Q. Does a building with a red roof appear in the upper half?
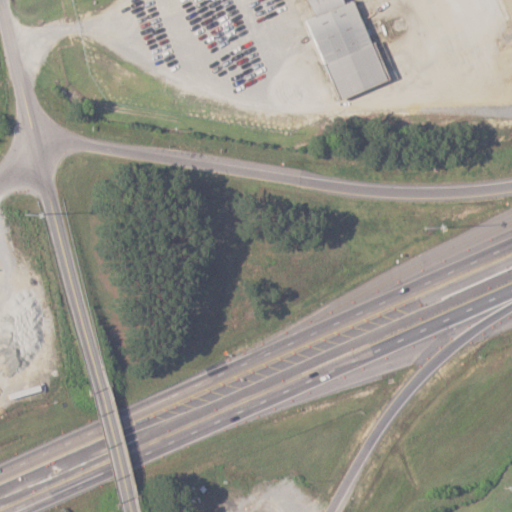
No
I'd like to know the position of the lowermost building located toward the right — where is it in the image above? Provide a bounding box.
[325,46,390,100]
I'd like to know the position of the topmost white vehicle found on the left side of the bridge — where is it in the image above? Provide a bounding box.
[6,384,46,400]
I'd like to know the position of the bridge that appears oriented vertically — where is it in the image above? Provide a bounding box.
[92,388,140,512]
